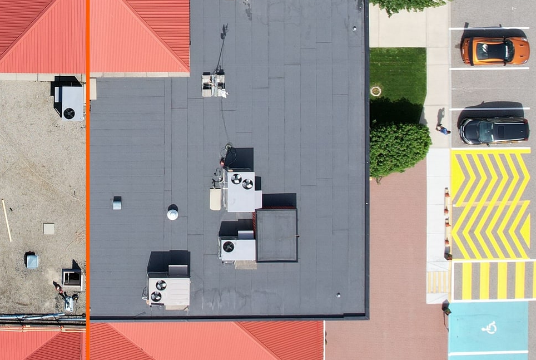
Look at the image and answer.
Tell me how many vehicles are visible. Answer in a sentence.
There are 2 vehicles in the image.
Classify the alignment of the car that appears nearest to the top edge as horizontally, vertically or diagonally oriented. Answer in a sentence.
What the image shows is the car that appears nearest to the top edge lying horizontally.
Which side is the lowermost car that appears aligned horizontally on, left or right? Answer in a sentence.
The lowermost car that appears aligned horizontally appears in the right half of the scene.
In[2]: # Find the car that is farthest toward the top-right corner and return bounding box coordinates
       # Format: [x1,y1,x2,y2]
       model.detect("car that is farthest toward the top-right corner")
[460,33,530,67]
